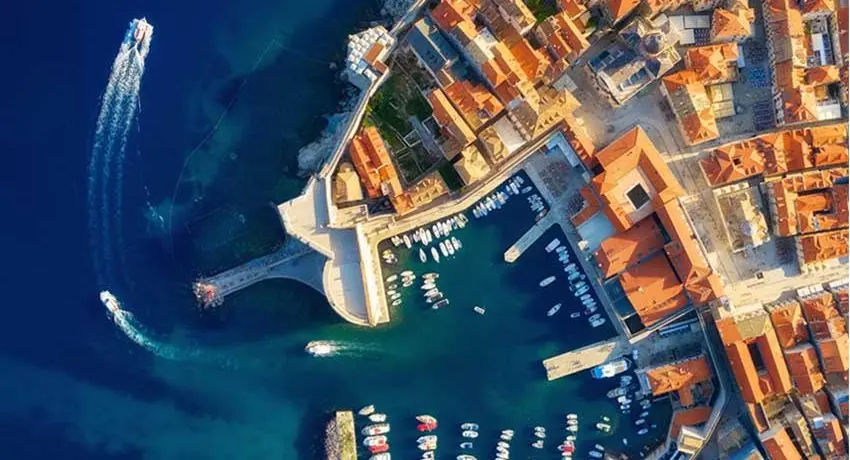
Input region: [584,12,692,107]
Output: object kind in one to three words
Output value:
building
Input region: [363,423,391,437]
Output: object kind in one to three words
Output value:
boat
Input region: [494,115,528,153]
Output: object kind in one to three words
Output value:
house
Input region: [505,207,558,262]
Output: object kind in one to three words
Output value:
pier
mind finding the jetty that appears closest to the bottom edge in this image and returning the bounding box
[336,410,357,460]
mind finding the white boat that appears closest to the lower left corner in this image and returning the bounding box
[100,291,116,310]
